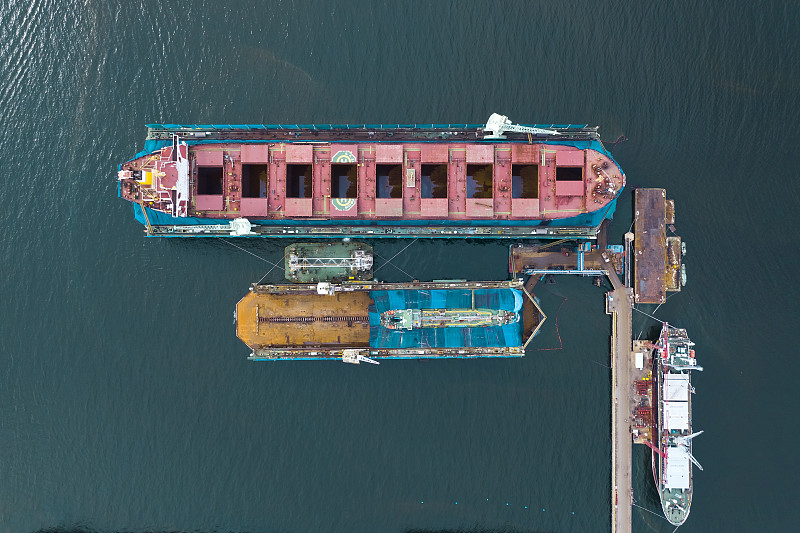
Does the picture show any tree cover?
No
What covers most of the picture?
water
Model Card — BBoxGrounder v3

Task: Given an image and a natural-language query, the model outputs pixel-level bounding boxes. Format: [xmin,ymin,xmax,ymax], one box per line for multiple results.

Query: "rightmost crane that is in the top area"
[485,118,559,140]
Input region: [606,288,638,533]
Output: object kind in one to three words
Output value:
pier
